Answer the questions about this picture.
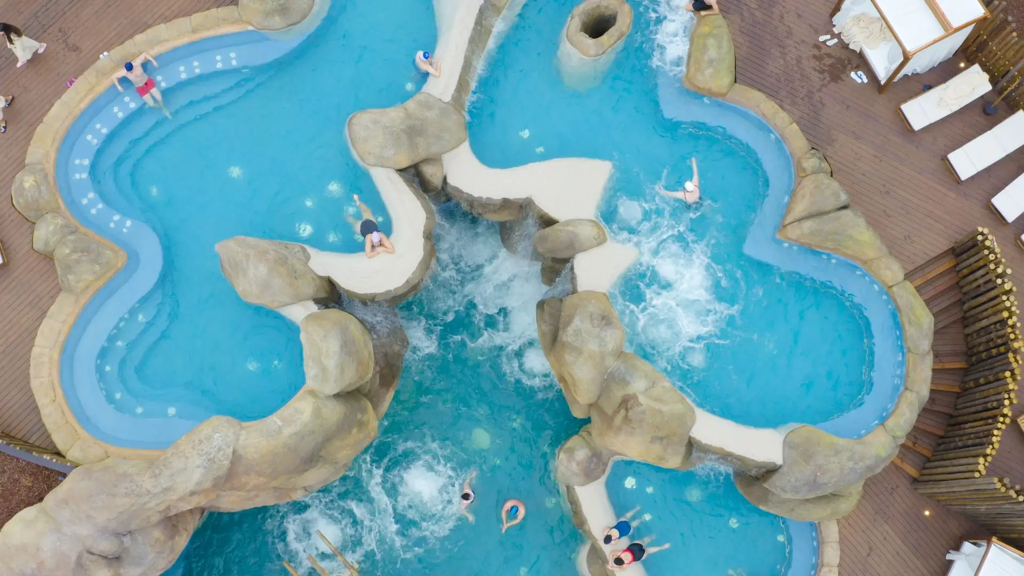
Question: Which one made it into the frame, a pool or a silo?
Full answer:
There is a pool in the scene.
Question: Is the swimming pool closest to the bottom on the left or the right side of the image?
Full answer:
The swimming pool closest to the bottom sits on the right side.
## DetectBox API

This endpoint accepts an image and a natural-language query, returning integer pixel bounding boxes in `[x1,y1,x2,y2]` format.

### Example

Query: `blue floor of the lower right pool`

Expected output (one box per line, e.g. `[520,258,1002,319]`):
[607,463,816,576]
